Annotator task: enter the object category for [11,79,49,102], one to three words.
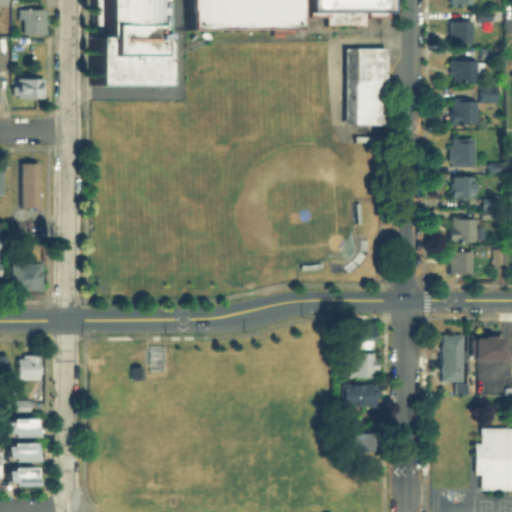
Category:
house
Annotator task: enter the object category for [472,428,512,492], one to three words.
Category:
building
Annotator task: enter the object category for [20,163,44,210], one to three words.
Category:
house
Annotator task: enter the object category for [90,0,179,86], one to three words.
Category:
building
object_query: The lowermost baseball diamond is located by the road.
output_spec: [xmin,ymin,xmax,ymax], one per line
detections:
[232,143,346,256]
